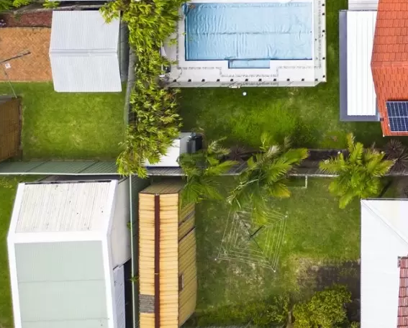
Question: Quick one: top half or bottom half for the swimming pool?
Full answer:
It is in the top half that the swimming pool appears.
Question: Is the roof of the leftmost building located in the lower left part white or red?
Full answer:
The roof of the leftmost building located in the lower left part looks white in the image.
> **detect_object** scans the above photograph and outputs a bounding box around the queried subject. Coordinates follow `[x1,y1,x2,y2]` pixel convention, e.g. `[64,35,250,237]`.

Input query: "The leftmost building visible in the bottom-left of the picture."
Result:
[4,168,142,328]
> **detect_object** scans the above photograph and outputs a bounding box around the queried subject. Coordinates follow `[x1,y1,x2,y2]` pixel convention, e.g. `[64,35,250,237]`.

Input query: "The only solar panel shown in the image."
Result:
[388,103,408,135]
